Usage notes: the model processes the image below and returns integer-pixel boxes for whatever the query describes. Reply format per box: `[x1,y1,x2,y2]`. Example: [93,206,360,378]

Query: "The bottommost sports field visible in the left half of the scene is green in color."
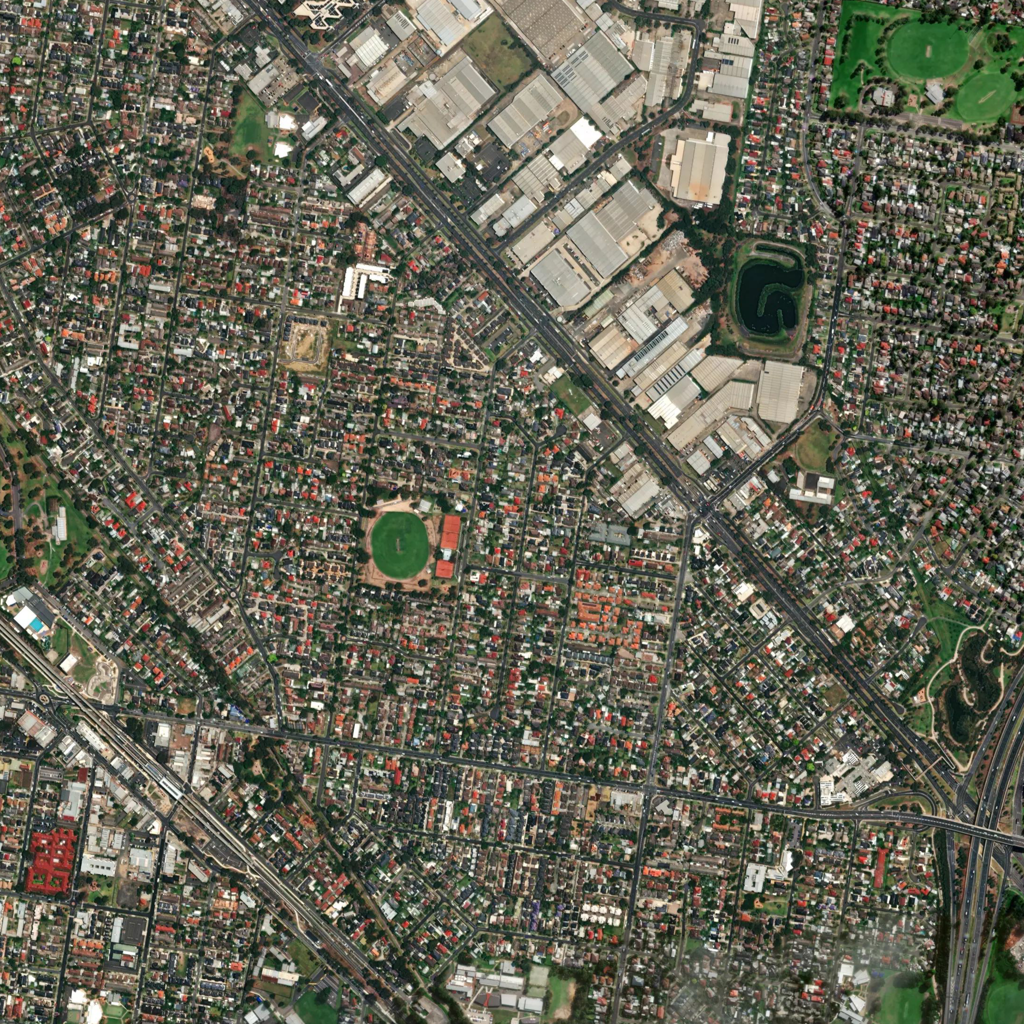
[371,510,429,580]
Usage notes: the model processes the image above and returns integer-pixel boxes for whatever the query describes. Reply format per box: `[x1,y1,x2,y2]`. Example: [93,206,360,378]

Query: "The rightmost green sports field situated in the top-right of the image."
[956,72,1017,123]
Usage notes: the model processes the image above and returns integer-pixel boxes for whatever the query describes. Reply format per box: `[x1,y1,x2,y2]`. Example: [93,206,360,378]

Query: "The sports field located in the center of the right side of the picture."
[797,418,835,475]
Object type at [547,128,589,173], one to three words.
building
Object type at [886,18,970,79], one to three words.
sports field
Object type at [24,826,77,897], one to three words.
house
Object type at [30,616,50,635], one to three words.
swimming pool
